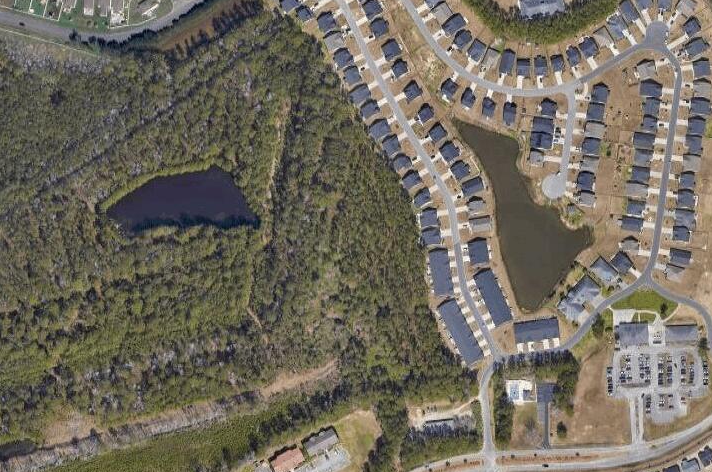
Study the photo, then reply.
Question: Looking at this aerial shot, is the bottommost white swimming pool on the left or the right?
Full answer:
You can find the bottommost white swimming pool on the right side of the picture.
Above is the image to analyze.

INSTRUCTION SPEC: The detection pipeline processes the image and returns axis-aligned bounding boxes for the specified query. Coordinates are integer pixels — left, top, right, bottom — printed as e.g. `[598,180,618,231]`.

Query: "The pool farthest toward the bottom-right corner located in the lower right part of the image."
[506,380,536,402]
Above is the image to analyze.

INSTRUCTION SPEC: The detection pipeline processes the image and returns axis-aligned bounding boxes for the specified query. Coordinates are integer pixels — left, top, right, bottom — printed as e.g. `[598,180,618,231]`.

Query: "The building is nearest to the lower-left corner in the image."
[271,447,305,472]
